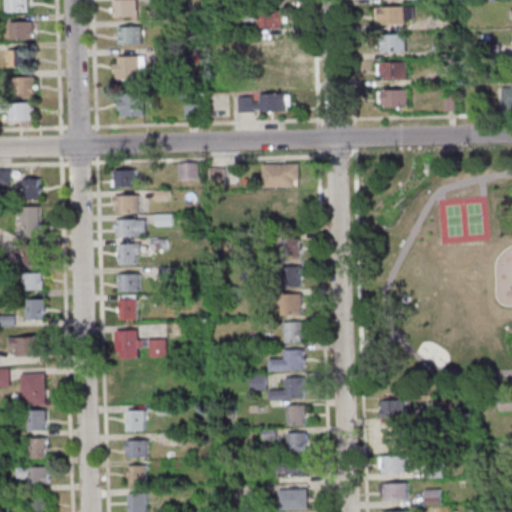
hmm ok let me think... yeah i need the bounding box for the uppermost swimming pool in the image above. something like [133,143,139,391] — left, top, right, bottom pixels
[184,190,198,206]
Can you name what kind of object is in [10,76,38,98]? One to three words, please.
house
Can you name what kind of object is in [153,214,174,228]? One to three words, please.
building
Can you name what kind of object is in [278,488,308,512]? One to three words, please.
house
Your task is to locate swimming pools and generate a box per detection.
[14,468,27,481]
[184,190,198,206]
